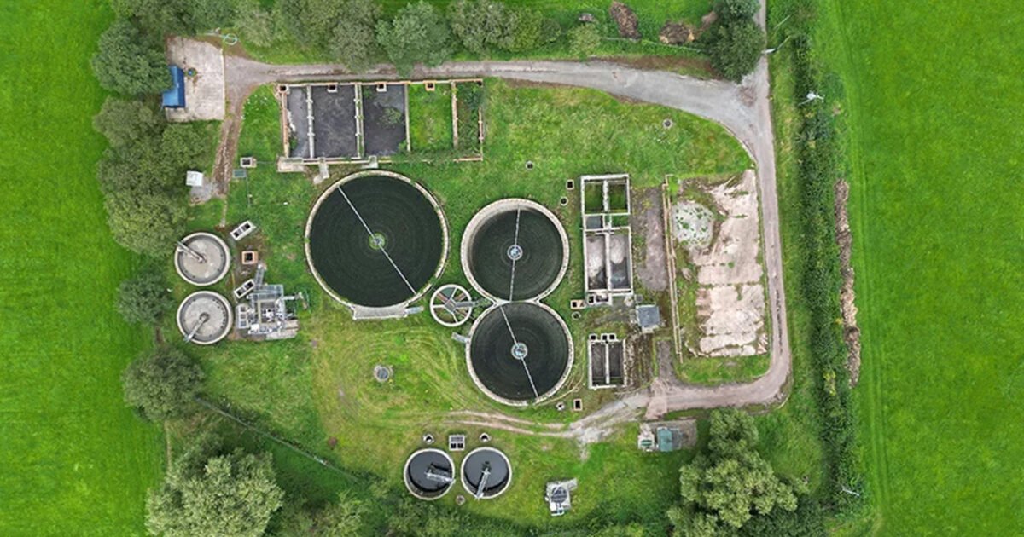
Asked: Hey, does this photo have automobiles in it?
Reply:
No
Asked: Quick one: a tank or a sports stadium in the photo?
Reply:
tank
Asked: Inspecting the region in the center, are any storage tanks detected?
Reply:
Yes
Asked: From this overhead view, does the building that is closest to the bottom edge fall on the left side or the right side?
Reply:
right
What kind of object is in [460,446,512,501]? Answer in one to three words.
storage tank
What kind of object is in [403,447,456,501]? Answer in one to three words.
storage tank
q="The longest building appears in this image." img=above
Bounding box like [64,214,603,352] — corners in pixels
[637,420,697,452]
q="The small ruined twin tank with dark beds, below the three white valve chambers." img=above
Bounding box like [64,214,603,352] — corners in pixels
[588,339,627,389]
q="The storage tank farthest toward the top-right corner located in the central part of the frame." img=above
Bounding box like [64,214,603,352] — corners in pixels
[580,173,635,308]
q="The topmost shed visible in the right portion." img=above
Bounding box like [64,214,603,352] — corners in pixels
[634,305,660,332]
